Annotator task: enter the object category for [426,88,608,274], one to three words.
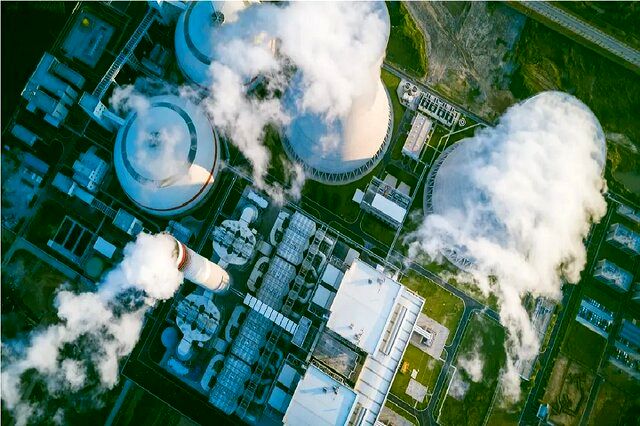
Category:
cooling tower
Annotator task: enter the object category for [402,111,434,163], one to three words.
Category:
building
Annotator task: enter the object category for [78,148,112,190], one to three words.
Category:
house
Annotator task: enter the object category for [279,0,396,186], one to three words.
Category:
cooling tower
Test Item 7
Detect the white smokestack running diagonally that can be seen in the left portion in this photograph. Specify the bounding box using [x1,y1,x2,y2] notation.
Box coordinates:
[161,238,234,297]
